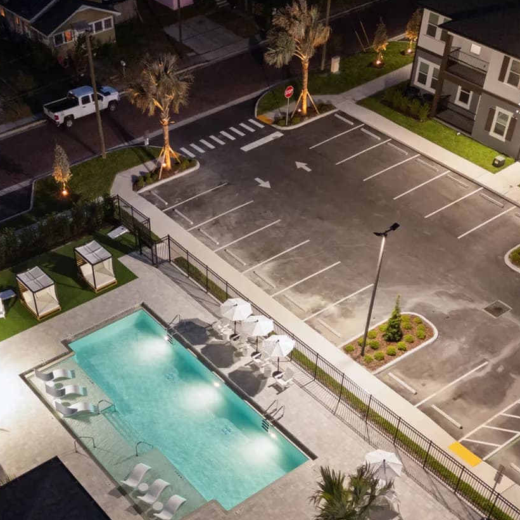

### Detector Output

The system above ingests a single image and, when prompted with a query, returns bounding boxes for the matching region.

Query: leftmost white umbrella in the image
[218,298,253,330]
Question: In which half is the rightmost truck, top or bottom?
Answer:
top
